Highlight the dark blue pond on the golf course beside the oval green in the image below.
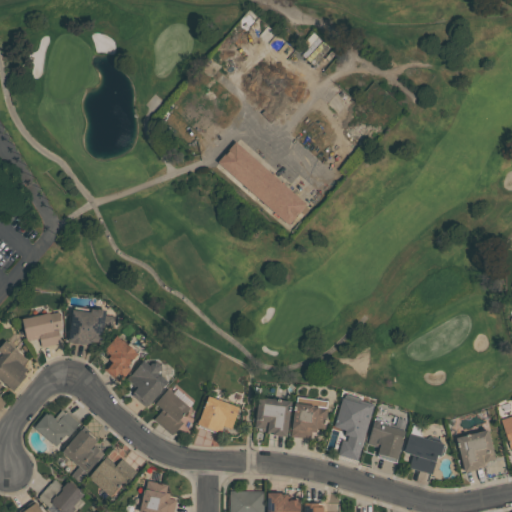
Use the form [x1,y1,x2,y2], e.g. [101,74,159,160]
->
[84,54,136,158]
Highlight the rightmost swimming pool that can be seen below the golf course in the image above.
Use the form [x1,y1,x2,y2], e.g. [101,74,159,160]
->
[460,416,484,429]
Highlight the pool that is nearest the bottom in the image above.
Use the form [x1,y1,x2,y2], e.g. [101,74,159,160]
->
[440,458,452,478]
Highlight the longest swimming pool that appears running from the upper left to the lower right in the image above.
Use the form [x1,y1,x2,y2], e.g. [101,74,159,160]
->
[30,432,47,452]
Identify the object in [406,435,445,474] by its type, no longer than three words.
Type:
house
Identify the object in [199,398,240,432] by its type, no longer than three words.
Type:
house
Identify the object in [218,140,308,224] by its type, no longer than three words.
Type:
building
